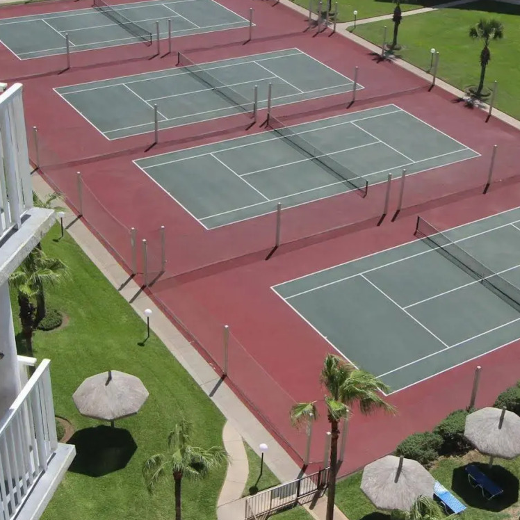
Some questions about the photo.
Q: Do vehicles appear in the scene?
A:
No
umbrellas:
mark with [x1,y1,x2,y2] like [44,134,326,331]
[69,371,147,432]
[357,453,441,519]
[459,405,520,466]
